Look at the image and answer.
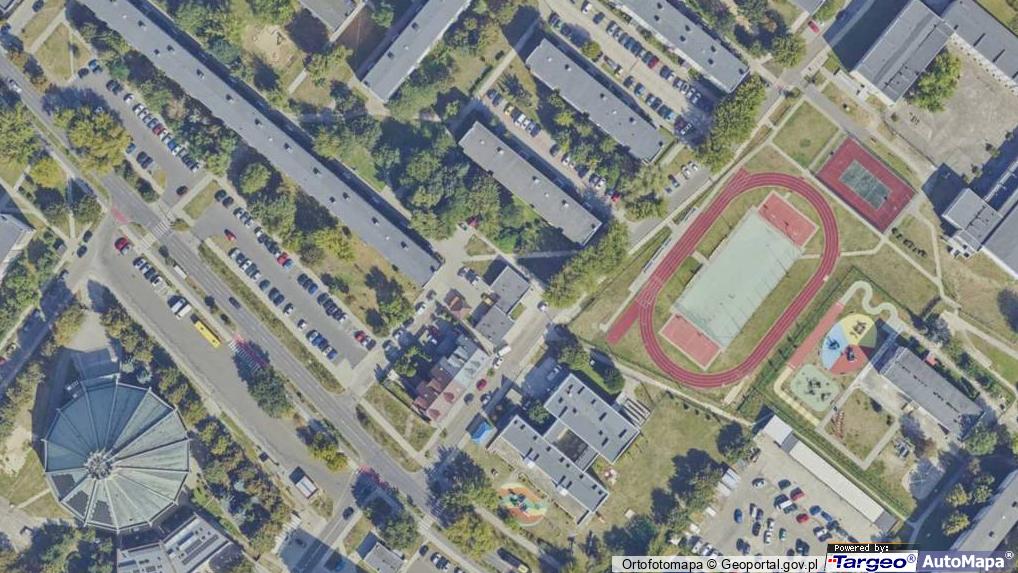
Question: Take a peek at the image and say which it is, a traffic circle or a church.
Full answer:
The one in the frame is a church.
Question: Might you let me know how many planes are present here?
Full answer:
There are no planes in this view.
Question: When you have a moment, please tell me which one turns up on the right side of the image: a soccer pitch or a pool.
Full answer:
There is a soccer pitch on the right side of the image.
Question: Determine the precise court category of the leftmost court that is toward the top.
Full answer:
The leftmost court that is toward the top is a basketball court.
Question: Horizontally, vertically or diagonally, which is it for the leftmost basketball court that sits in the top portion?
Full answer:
I'd say the leftmost basketball court that sits in the top portion is aligned diagonally in the picture.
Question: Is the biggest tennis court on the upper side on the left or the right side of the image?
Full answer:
The biggest tennis court on the upper side is on the right side of the image.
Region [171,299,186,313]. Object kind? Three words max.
vehicle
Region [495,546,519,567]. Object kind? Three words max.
vehicle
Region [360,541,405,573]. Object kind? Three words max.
building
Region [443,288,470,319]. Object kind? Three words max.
house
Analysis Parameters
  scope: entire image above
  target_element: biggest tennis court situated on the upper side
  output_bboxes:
[817,138,915,232]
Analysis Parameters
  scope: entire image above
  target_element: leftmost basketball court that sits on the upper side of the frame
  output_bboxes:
[756,189,820,249]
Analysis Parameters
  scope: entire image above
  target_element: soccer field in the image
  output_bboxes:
[668,204,807,353]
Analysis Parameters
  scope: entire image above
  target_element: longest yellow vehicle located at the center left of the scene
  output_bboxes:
[193,319,223,349]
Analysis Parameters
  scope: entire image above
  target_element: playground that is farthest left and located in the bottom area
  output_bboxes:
[498,482,547,525]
